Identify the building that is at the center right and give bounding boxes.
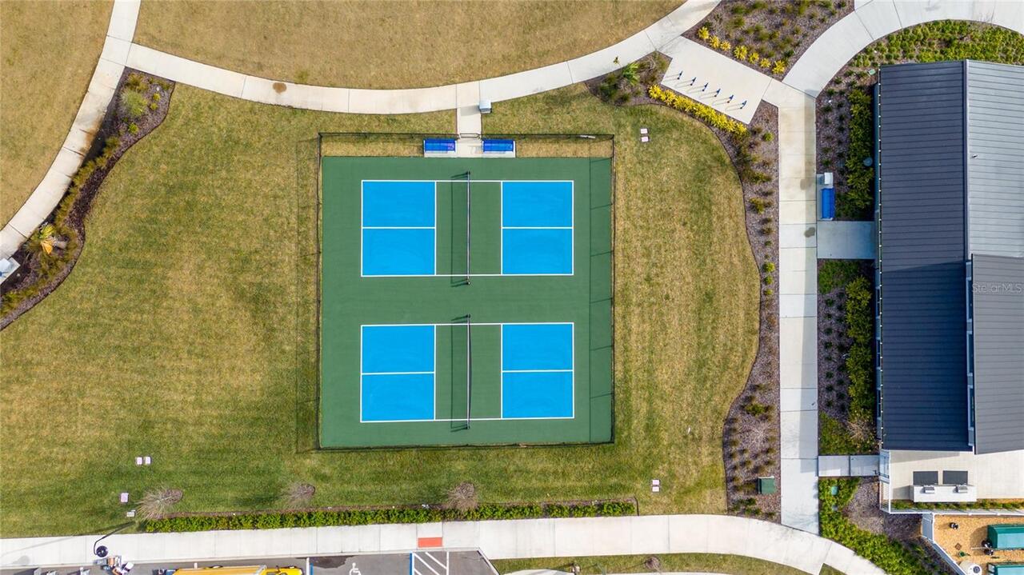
[872,62,1024,460]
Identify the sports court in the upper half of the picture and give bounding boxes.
[361,180,574,277]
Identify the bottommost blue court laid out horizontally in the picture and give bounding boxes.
[361,323,575,422]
